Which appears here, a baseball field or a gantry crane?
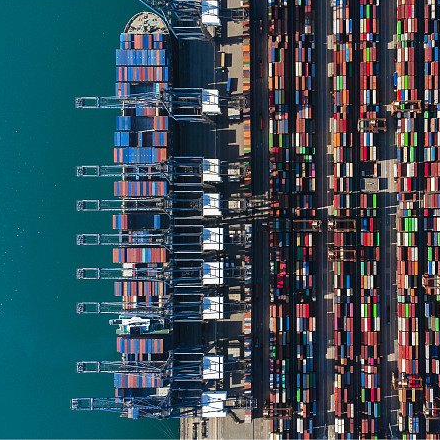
gantry crane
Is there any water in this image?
Yes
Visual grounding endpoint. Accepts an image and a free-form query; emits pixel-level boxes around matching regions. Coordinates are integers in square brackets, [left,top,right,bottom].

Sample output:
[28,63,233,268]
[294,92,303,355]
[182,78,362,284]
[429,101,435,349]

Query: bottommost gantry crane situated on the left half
[70,373,249,424]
